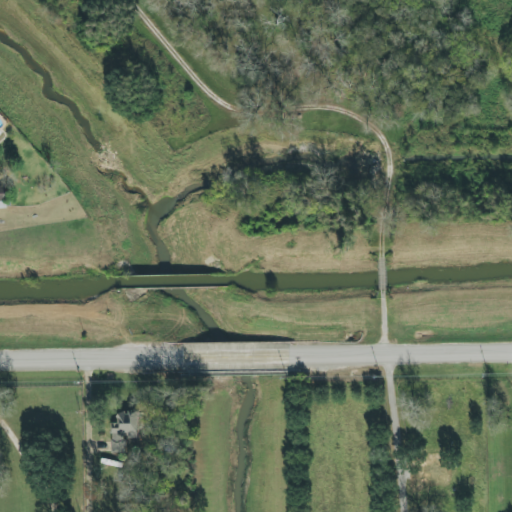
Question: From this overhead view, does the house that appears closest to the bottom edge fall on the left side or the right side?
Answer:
left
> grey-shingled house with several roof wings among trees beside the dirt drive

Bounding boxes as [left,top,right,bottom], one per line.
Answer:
[110,411,139,454]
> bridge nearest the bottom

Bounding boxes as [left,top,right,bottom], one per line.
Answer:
[180,342,292,372]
